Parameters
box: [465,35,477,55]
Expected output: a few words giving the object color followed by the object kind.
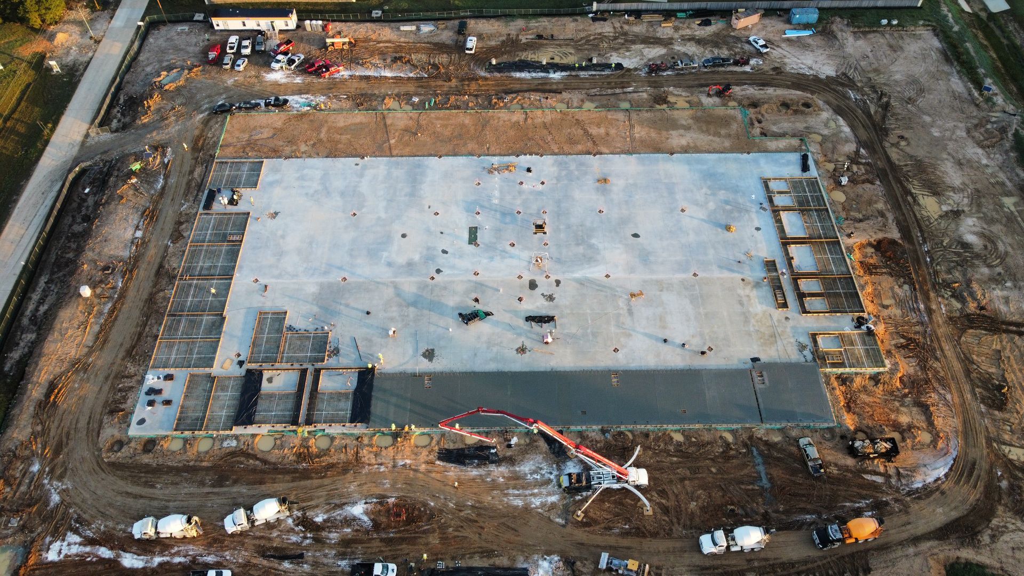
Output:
white vehicle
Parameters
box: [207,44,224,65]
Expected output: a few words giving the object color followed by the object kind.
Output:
red vehicle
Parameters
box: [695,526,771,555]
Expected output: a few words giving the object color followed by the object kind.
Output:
white truck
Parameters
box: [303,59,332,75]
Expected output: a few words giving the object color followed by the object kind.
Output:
red vehicle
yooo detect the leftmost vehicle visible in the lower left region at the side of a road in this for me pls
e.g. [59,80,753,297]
[129,514,203,541]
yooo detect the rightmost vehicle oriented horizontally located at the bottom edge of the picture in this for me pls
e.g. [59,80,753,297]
[808,517,886,549]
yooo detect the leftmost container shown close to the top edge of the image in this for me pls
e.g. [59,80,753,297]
[730,6,763,31]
